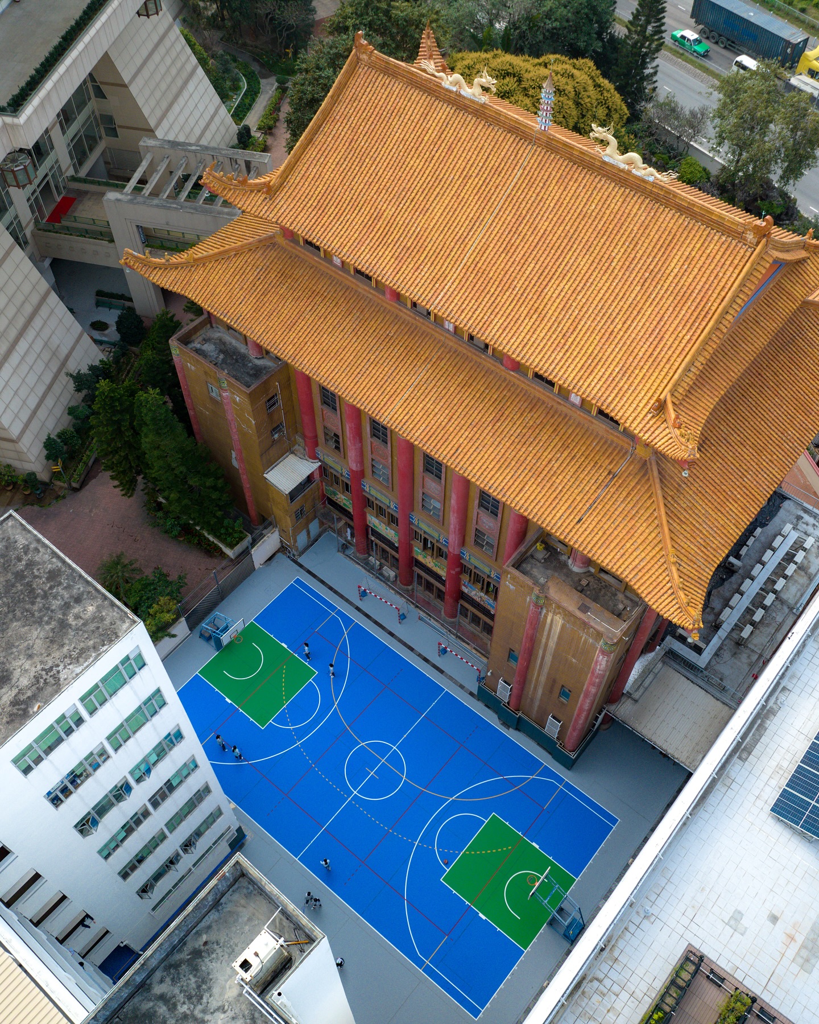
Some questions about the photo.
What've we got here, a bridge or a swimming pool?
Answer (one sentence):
There is a bridge in the scene.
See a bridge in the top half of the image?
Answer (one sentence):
Yes, you'll find a bridge in the top half of the image.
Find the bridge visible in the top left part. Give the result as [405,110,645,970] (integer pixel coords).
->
[22,169,249,285]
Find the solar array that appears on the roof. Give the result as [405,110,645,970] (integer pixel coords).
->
[770,734,819,846]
